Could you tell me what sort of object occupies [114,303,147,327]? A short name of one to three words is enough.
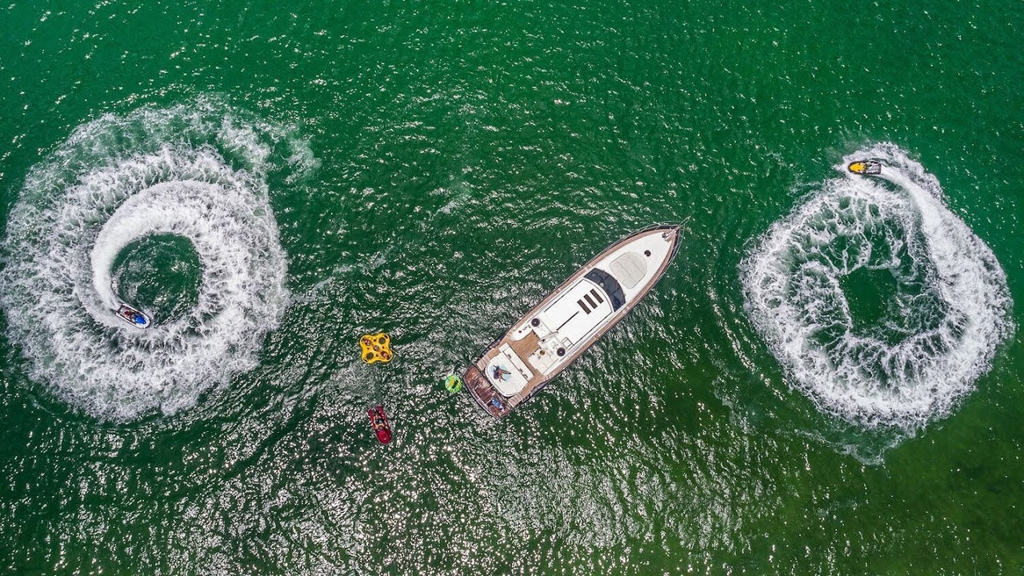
boat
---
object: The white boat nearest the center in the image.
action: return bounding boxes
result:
[463,215,692,418]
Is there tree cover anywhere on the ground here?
No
